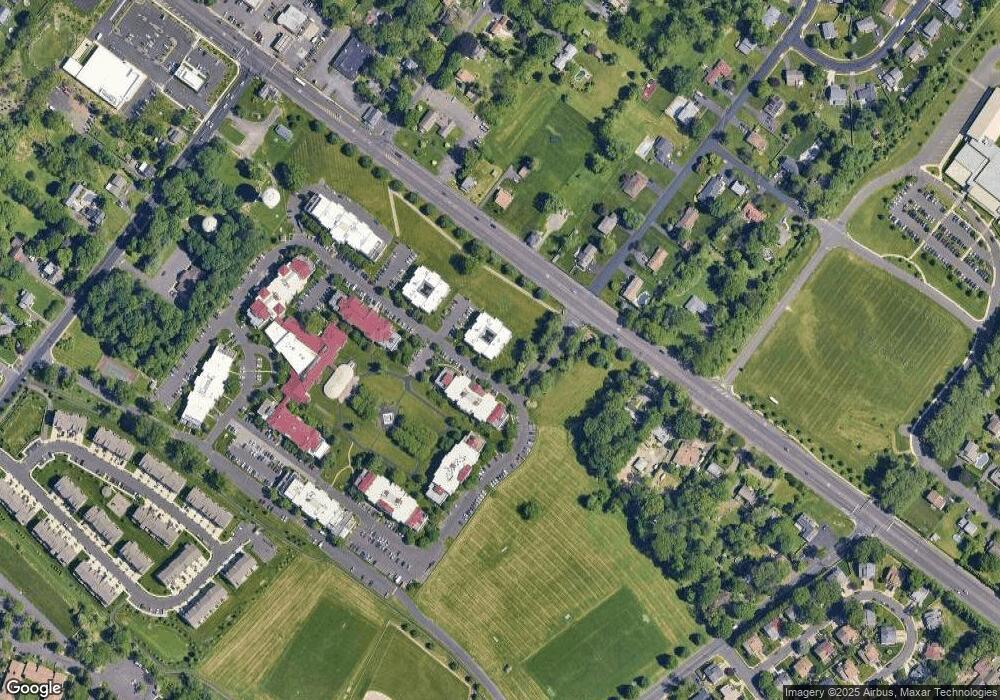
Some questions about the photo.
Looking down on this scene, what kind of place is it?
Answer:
residential area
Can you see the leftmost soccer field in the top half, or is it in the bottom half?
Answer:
bottom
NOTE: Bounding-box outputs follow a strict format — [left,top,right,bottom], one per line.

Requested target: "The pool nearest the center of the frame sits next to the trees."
[636,291,651,308]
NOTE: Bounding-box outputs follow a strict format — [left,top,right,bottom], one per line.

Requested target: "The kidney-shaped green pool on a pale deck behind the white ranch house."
[571,67,592,86]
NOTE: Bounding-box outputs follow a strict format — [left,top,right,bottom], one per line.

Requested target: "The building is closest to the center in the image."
[462,311,516,362]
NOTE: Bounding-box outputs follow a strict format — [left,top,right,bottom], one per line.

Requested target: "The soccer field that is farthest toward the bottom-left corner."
[258,594,381,700]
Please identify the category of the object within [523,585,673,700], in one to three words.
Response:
soccer field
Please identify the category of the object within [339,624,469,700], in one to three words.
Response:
baseball field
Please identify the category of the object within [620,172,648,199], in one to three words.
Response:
house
